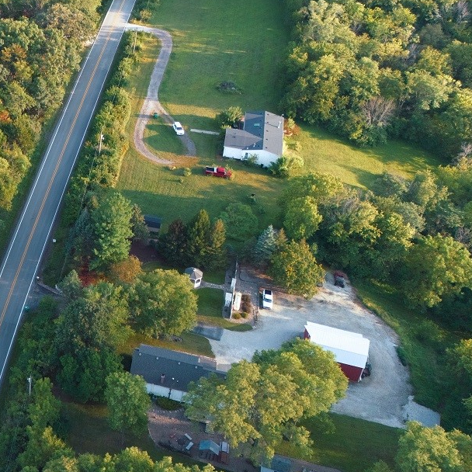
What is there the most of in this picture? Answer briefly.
trees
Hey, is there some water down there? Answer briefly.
No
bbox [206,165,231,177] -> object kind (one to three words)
vehicle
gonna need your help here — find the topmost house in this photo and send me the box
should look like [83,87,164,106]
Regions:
[222,111,284,169]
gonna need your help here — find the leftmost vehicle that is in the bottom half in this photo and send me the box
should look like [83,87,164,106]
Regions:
[263,285,275,310]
